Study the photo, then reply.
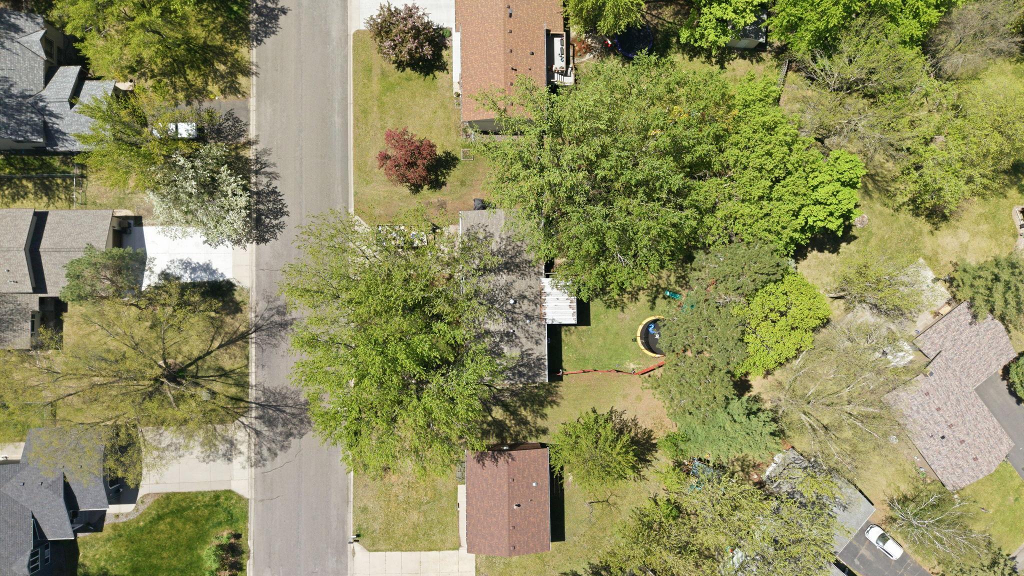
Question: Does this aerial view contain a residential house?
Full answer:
Yes, there's a residential house down there.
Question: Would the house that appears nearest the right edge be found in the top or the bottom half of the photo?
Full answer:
You can find the house that appears nearest the right edge in the bottom half.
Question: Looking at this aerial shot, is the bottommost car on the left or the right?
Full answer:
It is on the right.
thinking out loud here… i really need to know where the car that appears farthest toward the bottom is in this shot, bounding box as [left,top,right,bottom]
[865,522,910,565]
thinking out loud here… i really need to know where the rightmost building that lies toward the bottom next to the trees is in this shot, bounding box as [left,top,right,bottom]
[879,298,1015,492]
